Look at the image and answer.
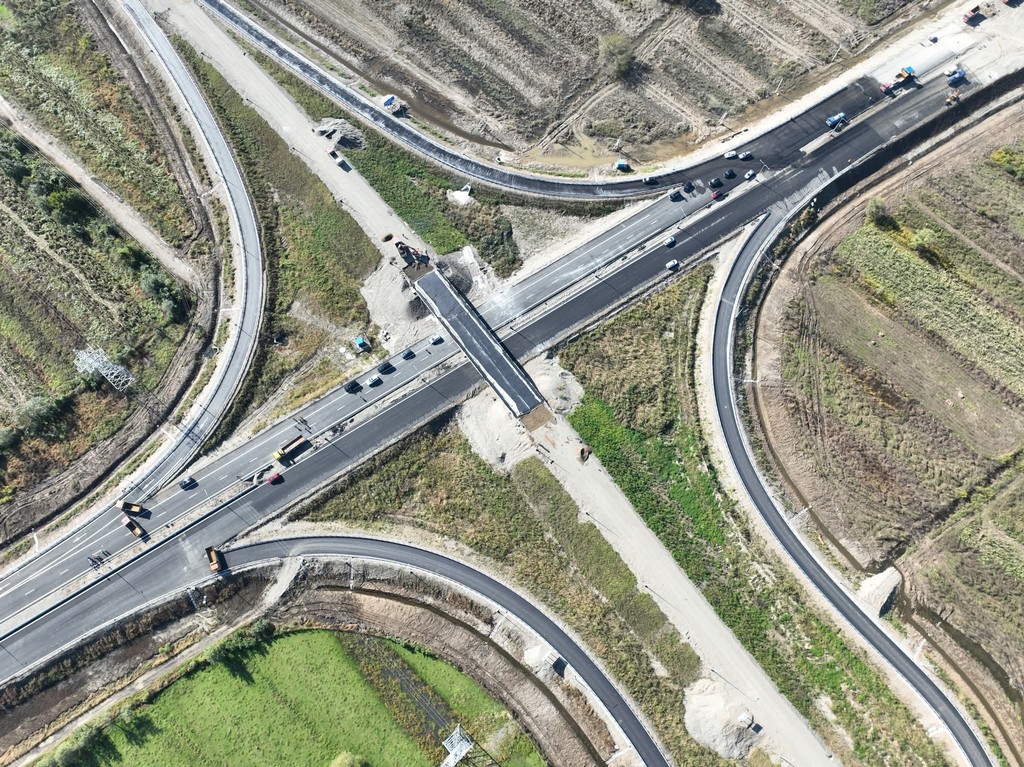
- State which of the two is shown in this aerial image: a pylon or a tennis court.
pylon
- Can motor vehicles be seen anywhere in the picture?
Yes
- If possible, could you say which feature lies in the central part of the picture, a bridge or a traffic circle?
bridge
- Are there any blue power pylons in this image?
No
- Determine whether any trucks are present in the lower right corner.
No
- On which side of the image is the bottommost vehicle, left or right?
left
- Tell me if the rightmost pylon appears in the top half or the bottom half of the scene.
bottom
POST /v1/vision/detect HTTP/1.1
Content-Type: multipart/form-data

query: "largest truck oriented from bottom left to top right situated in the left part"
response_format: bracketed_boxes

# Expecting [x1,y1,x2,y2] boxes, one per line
[270,432,306,460]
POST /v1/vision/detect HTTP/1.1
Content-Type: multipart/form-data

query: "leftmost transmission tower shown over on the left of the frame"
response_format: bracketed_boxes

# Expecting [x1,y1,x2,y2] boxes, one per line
[69,346,136,397]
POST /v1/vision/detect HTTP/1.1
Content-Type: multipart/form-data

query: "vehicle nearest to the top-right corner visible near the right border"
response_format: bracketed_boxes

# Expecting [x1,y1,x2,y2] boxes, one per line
[964,0,985,20]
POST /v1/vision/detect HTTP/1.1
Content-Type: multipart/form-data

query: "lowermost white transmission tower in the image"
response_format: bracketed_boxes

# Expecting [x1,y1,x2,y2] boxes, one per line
[434,720,474,767]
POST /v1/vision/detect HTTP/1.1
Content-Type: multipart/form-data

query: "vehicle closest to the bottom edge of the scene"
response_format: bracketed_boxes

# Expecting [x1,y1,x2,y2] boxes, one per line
[201,542,221,573]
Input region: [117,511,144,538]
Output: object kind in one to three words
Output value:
truck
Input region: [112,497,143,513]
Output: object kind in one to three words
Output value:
vehicle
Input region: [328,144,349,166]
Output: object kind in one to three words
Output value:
truck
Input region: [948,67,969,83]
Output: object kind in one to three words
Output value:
vehicle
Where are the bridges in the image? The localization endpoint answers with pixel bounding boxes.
[401,254,555,433]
